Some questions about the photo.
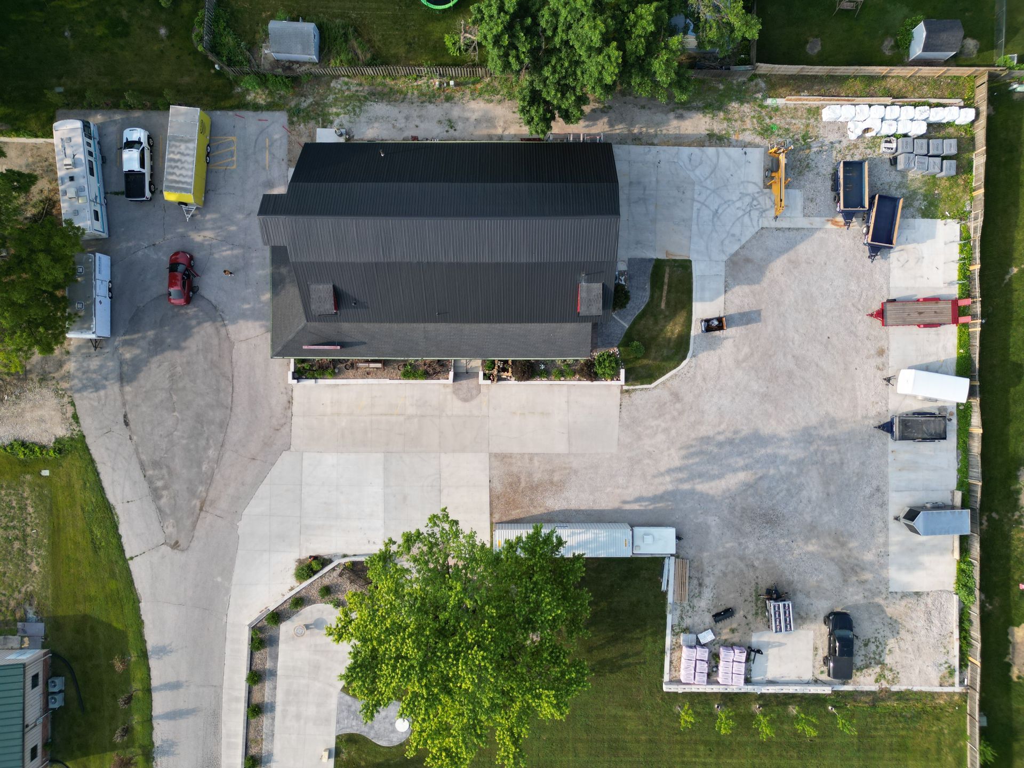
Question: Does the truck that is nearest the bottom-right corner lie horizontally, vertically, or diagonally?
vertically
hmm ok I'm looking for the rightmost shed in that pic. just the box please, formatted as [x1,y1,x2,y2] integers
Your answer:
[911,18,966,61]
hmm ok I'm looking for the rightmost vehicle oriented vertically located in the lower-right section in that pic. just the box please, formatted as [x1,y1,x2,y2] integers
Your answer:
[822,610,855,682]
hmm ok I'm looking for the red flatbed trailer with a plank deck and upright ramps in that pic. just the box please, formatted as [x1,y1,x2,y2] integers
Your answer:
[866,299,972,328]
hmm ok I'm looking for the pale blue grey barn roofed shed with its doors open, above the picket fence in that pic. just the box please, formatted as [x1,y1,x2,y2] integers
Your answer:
[265,11,318,60]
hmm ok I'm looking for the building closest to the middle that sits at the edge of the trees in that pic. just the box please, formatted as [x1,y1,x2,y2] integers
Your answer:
[256,143,621,358]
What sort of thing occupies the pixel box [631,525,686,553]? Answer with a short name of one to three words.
vehicle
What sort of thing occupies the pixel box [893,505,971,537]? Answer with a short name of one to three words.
trailer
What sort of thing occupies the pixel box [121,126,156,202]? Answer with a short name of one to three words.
truck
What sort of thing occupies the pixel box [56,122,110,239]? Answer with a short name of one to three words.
camper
